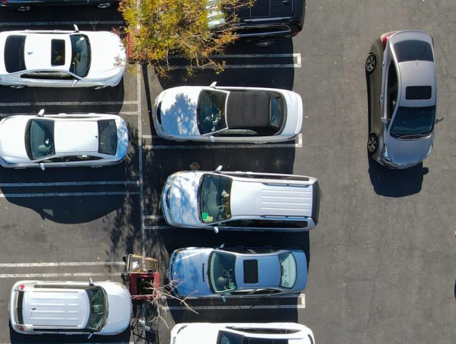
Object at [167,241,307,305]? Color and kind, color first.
blue car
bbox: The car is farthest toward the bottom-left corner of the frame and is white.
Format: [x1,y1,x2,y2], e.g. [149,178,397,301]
[10,275,130,342]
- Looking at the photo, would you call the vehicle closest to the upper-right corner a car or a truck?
car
